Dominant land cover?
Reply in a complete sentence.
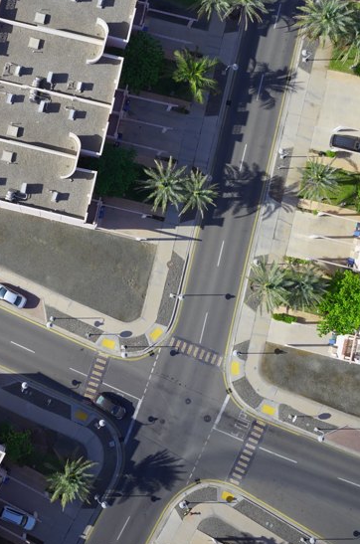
Most of the picture is covered by paved ground.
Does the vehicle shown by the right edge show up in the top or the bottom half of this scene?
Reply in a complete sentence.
The vehicle shown by the right edge is in the top half of the image.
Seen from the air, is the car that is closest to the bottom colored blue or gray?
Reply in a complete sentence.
The car that is closest to the bottom is blue.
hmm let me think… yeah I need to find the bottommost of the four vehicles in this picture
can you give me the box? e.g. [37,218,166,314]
[0,504,36,529]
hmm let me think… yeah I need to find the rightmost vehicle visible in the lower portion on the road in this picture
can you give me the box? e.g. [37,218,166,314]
[93,391,129,419]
